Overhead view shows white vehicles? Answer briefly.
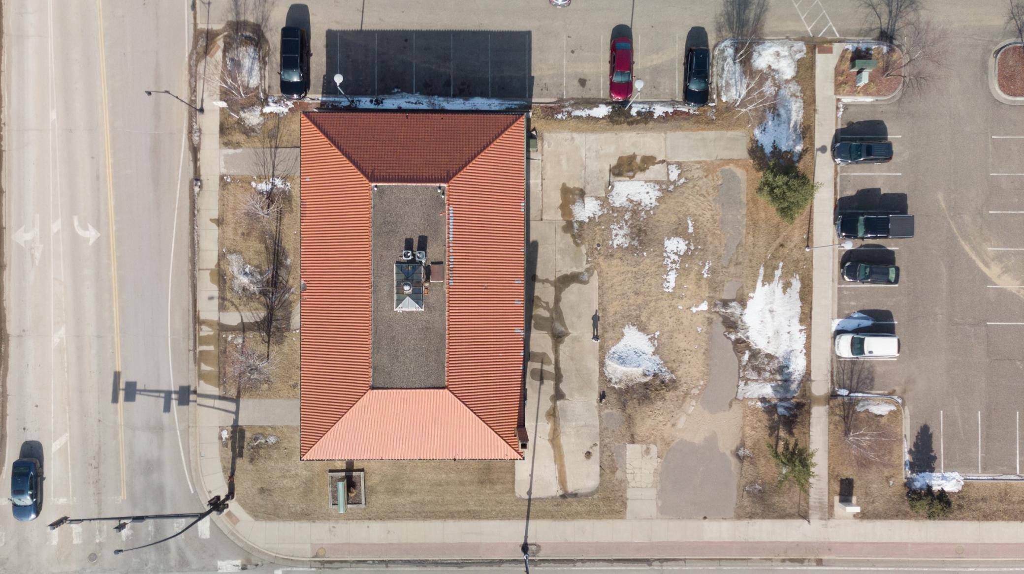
Yes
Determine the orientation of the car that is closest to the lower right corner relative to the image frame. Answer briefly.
from left to right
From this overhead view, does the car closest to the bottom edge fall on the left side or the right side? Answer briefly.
left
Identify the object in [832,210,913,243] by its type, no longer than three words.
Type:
truck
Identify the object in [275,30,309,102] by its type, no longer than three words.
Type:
car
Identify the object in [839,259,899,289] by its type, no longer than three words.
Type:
car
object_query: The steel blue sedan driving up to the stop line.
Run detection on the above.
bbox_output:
[7,456,42,521]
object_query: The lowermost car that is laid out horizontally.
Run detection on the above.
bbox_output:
[832,331,899,362]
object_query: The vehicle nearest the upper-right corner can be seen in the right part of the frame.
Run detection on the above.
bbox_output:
[829,135,892,166]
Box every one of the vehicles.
[839,259,899,289]
[682,45,713,107]
[832,210,913,243]
[7,456,42,521]
[829,135,892,166]
[275,30,309,102]
[832,331,899,362]
[606,37,636,103]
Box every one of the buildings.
[298,110,528,463]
